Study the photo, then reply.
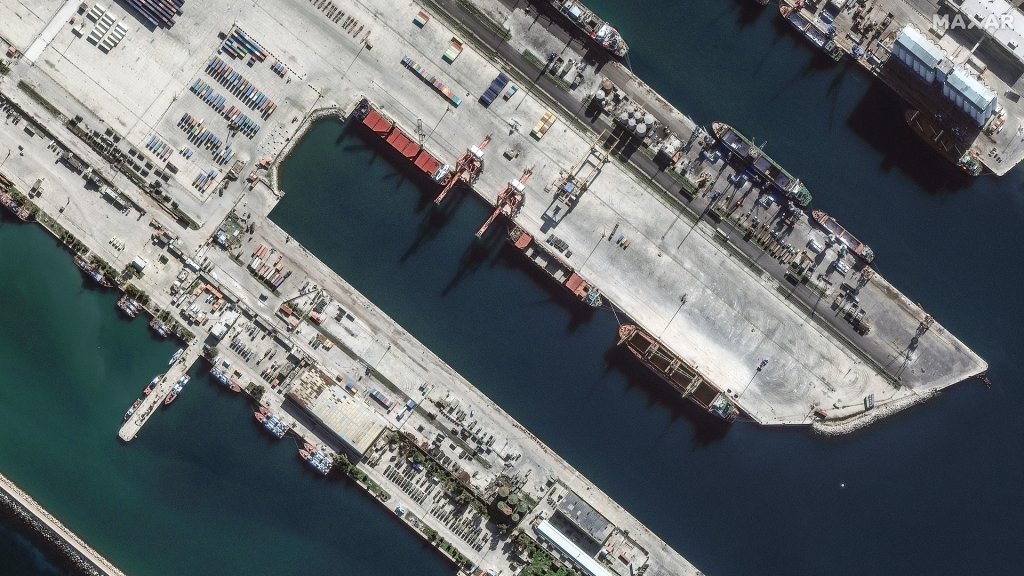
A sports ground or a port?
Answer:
port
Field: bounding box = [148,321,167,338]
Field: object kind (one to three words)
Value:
boat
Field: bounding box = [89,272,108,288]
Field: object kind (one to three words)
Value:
boat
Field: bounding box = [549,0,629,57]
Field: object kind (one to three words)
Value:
ship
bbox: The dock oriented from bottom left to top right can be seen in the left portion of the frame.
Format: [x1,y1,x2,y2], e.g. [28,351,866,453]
[119,345,204,442]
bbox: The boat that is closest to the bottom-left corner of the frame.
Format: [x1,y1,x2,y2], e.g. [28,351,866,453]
[124,399,142,418]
